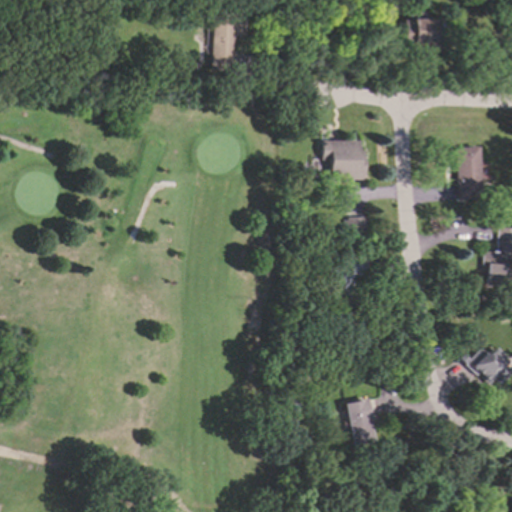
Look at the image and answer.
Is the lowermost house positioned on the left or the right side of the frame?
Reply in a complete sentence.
The lowermost house is on the right side of the image.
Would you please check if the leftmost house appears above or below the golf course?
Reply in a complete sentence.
The leftmost house is located above the golf course in this view.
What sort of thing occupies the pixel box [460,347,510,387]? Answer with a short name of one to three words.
house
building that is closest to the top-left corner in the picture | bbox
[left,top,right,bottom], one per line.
[213,22,235,57]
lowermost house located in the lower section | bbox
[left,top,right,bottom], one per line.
[346,396,378,444]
